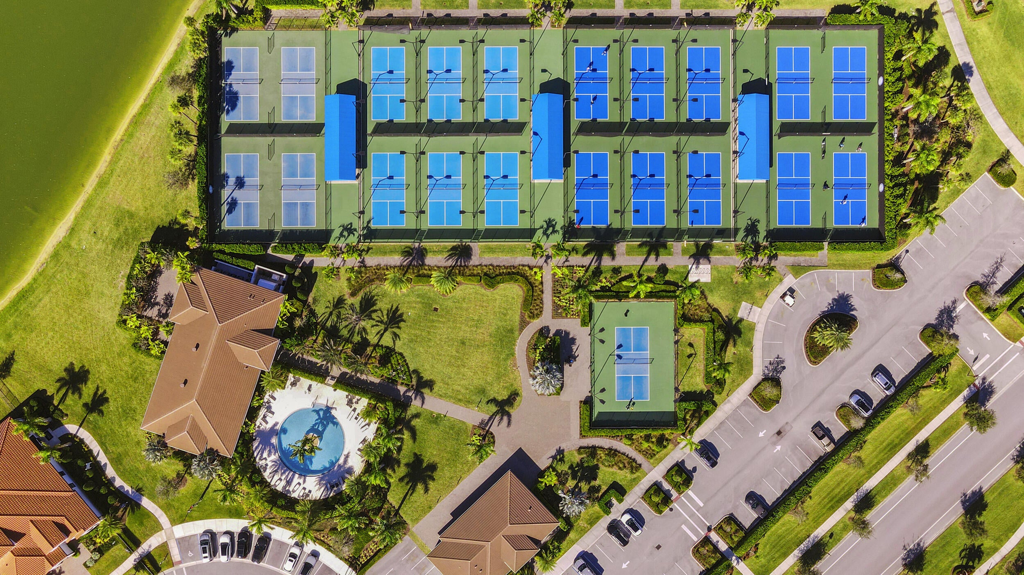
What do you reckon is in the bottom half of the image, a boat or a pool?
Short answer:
pool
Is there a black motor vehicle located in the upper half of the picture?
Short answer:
No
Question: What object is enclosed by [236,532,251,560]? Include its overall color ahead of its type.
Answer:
black car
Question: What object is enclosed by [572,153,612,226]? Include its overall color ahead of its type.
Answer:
blue sports court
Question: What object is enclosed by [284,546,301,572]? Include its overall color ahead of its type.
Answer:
white car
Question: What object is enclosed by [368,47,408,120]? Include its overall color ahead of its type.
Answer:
blue sports court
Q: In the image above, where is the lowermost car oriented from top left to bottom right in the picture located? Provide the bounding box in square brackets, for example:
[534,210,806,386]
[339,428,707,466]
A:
[575,555,597,575]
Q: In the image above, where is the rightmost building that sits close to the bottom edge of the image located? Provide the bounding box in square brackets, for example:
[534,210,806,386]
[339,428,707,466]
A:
[426,470,560,575]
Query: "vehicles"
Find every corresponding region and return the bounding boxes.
[284,546,301,572]
[745,492,765,516]
[607,520,629,547]
[253,537,270,564]
[621,512,642,537]
[871,368,894,394]
[301,553,320,575]
[849,393,873,418]
[780,288,796,305]
[236,532,251,560]
[218,535,232,563]
[695,442,718,468]
[575,555,597,575]
[199,534,214,562]
[808,423,835,451]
